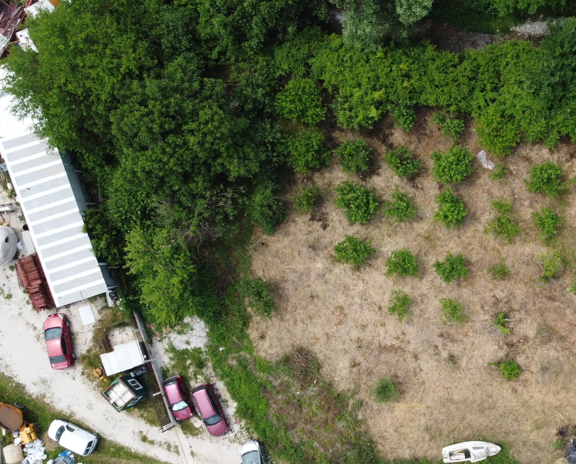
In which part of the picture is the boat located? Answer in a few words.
bottom right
